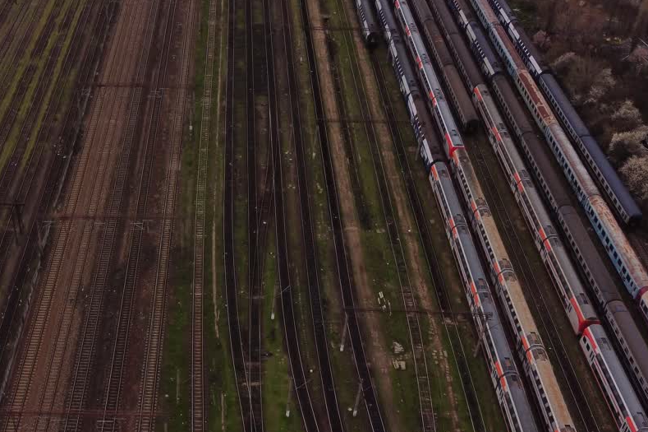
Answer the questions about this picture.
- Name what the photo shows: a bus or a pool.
bus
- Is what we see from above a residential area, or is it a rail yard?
rail yard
